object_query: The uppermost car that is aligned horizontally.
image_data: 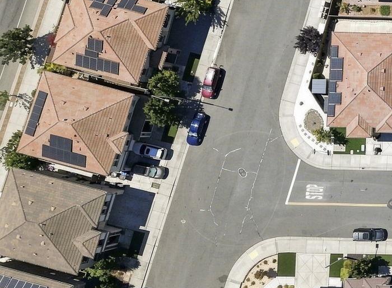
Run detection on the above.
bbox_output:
[134,141,168,159]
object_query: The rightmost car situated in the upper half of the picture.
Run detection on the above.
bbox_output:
[205,66,225,97]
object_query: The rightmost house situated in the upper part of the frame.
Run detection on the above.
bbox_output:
[326,31,392,138]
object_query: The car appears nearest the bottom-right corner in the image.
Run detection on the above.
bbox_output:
[355,226,386,243]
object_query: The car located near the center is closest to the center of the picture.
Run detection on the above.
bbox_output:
[189,113,209,145]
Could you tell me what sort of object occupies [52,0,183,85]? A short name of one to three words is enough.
house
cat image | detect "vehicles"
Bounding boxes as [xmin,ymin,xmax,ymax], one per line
[355,226,386,243]
[132,161,170,180]
[134,141,168,159]
[189,113,209,145]
[205,66,225,97]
